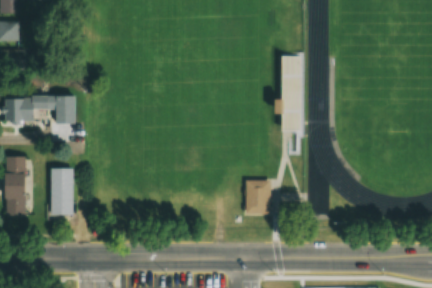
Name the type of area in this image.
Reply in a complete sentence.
It's a sports ground.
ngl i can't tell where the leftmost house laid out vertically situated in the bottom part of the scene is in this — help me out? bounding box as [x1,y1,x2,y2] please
[4,157,25,216]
